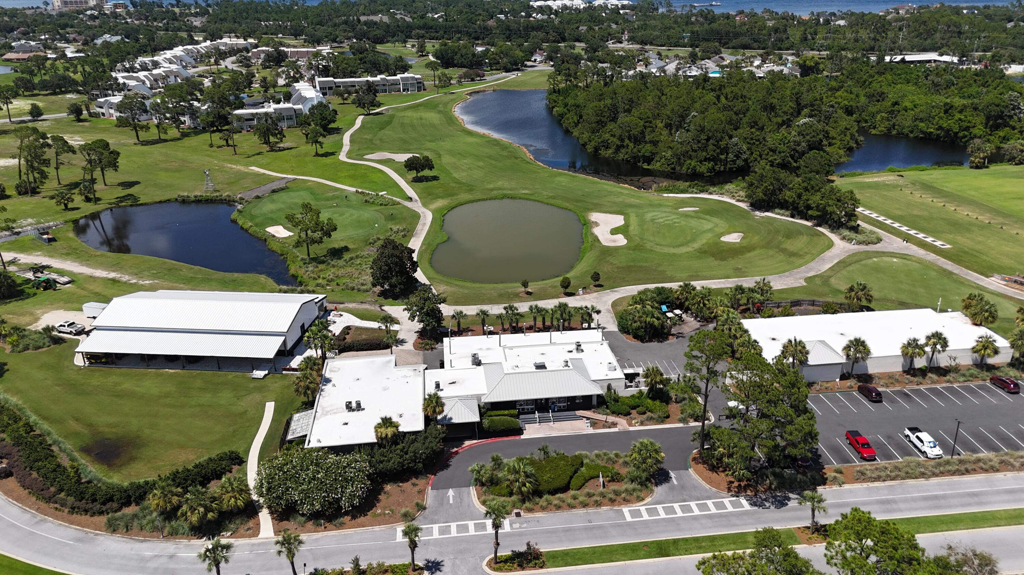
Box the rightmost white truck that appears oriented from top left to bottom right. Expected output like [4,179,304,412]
[906,429,942,456]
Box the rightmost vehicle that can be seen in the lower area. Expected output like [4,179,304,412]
[990,375,1020,392]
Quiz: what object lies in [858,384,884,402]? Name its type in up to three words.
car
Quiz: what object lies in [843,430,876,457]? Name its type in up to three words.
truck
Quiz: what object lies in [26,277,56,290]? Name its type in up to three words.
vehicle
